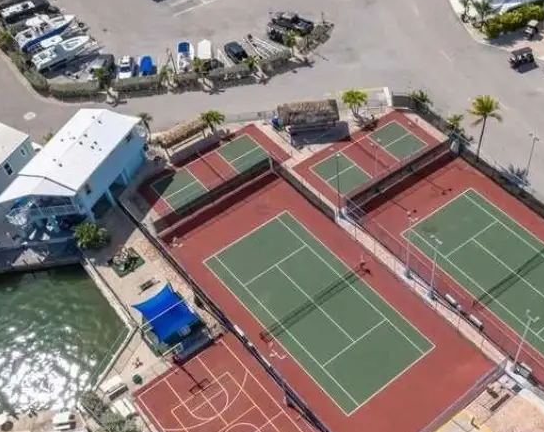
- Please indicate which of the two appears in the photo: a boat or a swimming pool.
boat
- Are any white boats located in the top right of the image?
No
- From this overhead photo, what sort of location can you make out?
sports ground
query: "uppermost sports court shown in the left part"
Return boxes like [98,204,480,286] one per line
[126,124,294,233]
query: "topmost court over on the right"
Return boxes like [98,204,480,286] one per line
[293,107,438,209]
